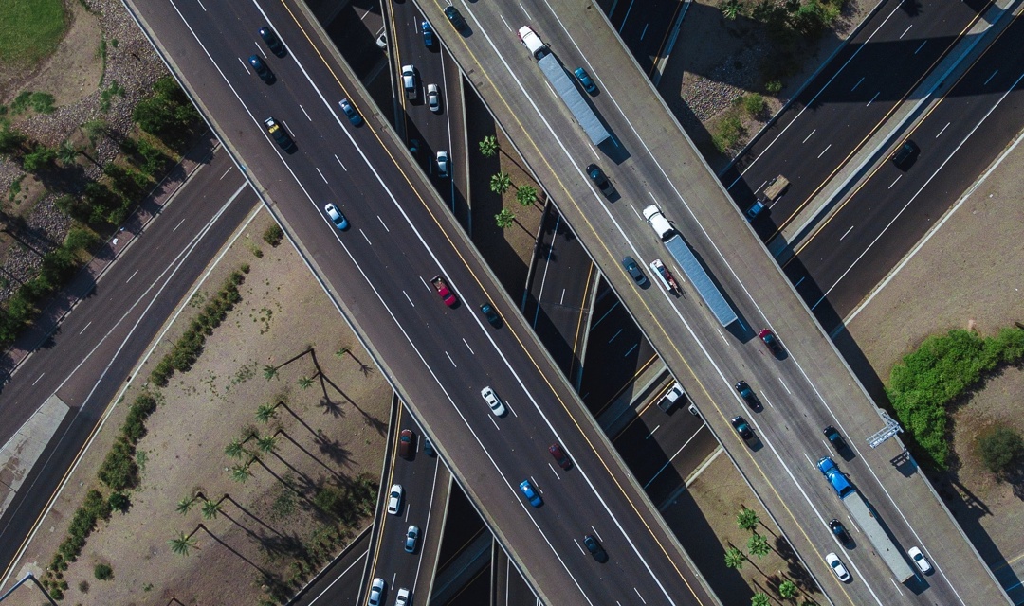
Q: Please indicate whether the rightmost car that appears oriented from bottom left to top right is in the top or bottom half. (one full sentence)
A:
The rightmost car that appears oriented from bottom left to top right is in the top half of the image.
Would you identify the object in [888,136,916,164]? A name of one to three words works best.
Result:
car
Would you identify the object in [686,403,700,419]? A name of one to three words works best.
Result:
car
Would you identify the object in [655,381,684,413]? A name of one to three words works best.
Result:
truck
